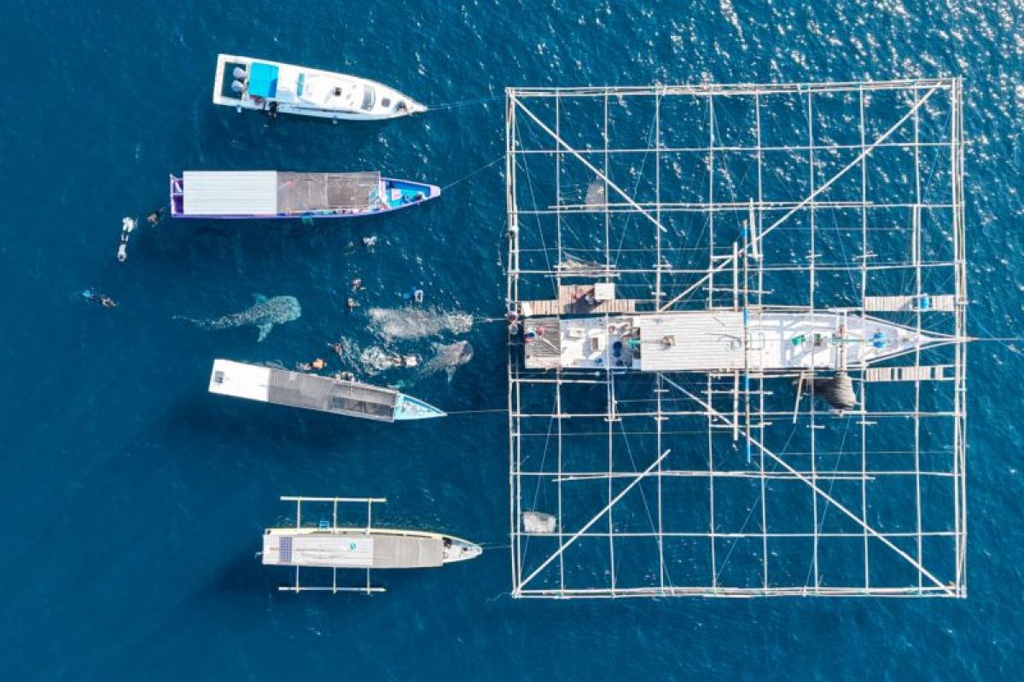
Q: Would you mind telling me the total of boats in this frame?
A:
4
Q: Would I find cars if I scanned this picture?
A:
No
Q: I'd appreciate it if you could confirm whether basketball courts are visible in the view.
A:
No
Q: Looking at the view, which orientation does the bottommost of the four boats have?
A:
from left to right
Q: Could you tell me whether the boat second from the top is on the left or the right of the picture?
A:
left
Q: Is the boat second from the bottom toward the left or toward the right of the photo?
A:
left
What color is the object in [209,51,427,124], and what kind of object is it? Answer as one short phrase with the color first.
white boat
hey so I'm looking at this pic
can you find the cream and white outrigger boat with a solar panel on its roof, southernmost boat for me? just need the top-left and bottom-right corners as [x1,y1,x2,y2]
[255,496,483,596]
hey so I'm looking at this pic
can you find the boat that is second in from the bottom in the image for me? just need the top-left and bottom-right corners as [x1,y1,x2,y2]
[210,359,447,423]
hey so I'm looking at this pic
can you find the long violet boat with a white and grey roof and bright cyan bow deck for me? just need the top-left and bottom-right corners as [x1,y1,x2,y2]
[171,170,442,226]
